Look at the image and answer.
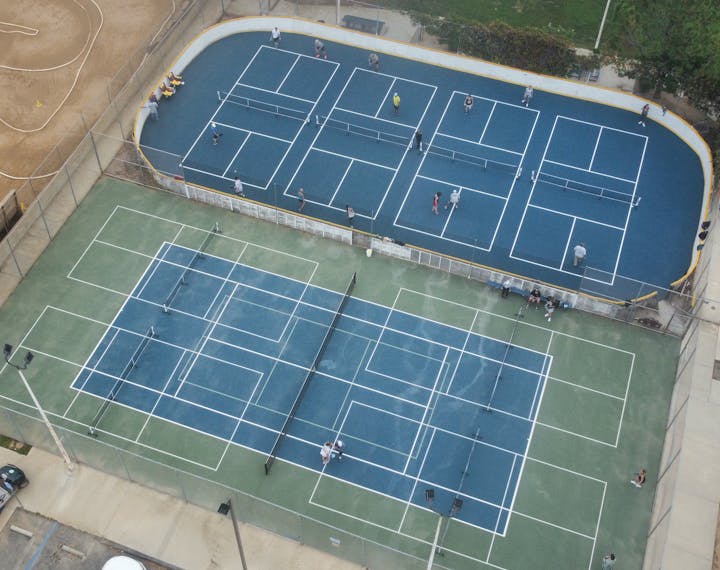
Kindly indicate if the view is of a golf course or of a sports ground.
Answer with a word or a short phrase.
sports ground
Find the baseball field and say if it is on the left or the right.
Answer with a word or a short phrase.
left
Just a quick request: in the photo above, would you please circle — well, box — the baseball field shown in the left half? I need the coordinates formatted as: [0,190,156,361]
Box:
[0,0,207,263]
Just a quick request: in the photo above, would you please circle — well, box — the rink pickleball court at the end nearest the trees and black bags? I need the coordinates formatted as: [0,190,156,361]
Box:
[509,115,648,285]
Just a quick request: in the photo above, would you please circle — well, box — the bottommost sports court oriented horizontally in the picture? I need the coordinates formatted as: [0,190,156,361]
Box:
[310,401,606,570]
